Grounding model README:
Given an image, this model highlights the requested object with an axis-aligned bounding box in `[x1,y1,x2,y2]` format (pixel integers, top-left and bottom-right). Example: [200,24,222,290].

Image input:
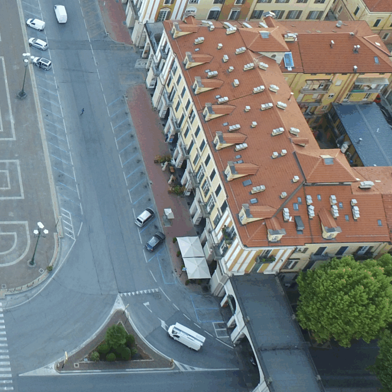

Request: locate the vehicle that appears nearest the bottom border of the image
[167,324,209,352]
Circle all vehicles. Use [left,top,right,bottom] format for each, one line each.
[32,56,58,69]
[27,38,50,50]
[167,324,209,352]
[145,231,165,253]
[25,19,47,31]
[53,7,68,22]
[134,207,155,228]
